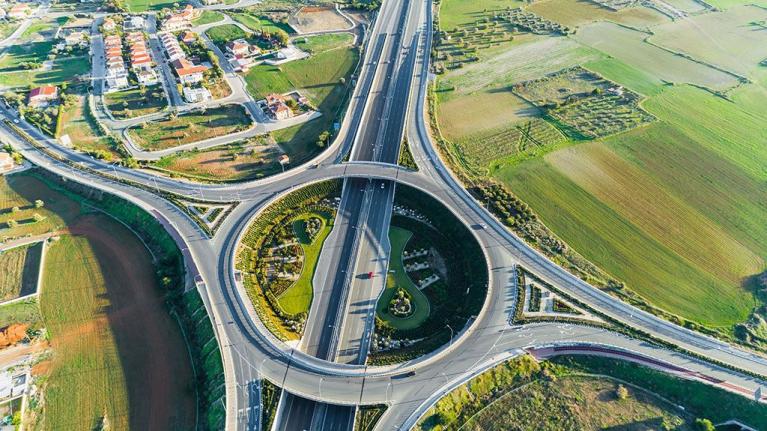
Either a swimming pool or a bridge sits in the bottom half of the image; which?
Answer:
bridge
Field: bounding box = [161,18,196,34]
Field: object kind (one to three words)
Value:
house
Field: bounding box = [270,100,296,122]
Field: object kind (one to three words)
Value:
house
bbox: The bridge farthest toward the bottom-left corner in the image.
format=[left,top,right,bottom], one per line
[264,346,369,406]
